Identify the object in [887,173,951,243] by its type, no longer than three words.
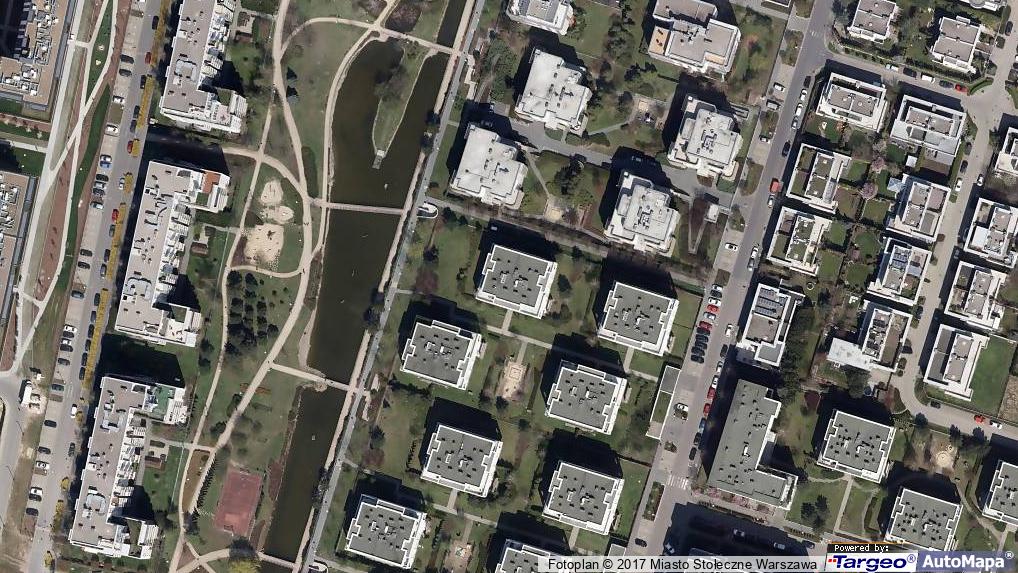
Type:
house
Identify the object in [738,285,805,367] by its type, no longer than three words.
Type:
house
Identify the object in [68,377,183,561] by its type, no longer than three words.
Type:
building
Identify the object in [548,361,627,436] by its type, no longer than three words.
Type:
building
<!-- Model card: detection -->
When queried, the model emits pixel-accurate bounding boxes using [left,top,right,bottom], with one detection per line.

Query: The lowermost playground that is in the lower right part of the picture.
[926,441,955,472]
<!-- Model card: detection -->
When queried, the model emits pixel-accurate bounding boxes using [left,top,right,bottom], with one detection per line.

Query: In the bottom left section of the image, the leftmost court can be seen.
[215,470,264,540]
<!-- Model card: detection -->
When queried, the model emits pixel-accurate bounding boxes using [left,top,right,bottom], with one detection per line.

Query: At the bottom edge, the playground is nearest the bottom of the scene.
[444,539,471,573]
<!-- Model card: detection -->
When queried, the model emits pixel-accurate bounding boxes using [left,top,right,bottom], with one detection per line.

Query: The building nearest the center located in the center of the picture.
[477,247,559,319]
